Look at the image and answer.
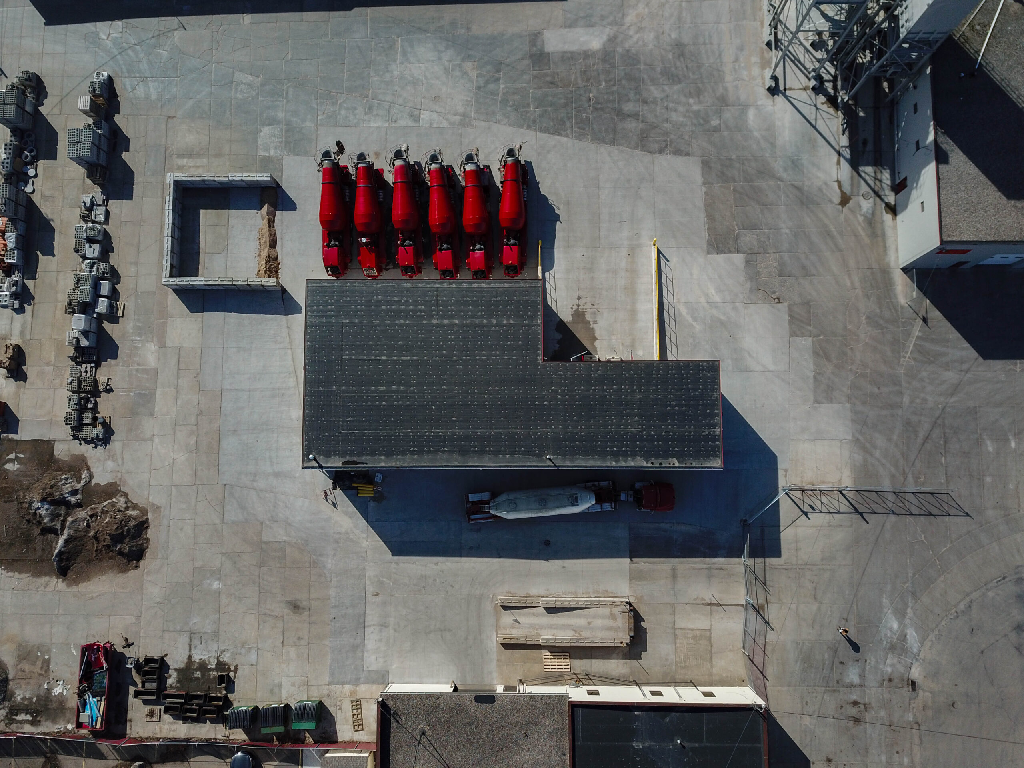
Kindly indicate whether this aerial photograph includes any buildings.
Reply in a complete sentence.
Yes, the frame does contain a building.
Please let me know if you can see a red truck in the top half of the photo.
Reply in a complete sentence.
Yes, a red truck appears in the top half of the photo.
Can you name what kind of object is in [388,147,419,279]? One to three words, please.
truck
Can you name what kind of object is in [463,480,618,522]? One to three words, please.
trailer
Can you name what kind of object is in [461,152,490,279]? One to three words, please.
truck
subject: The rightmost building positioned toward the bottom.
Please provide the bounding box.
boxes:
[569,684,773,768]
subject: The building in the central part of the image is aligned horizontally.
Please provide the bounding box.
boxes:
[301,279,723,473]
